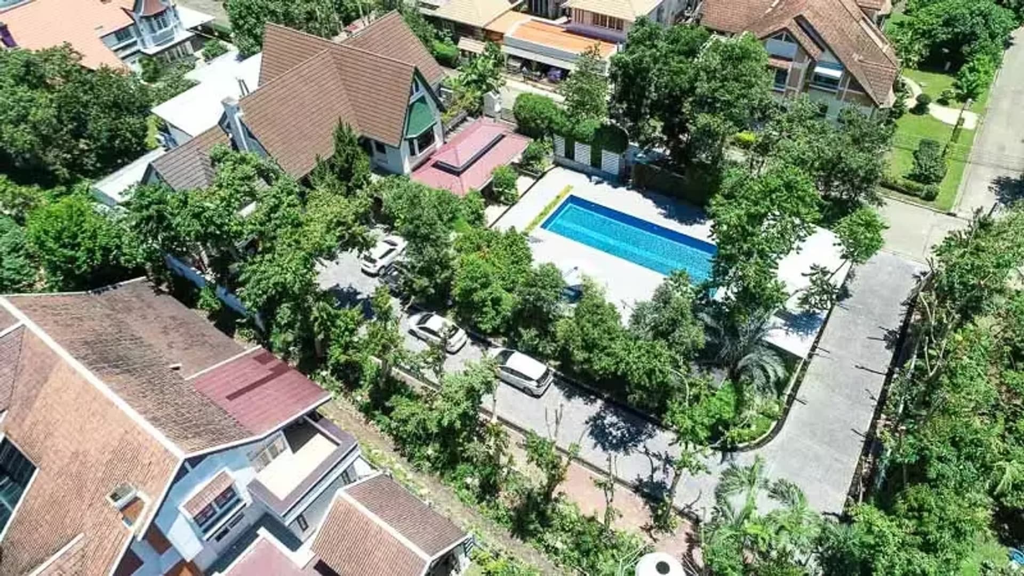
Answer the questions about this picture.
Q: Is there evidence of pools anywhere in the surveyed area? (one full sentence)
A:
Yes, the picture does show a pool.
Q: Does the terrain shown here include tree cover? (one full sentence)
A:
Yes, tree cover can be seen from above here.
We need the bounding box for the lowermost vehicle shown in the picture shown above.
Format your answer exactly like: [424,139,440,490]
[495,356,554,394]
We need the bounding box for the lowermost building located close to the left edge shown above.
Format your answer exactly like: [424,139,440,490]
[0,273,398,576]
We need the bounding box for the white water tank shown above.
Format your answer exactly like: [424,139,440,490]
[631,549,685,576]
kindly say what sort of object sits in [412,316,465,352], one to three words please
car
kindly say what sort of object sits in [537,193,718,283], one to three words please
swimming pool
